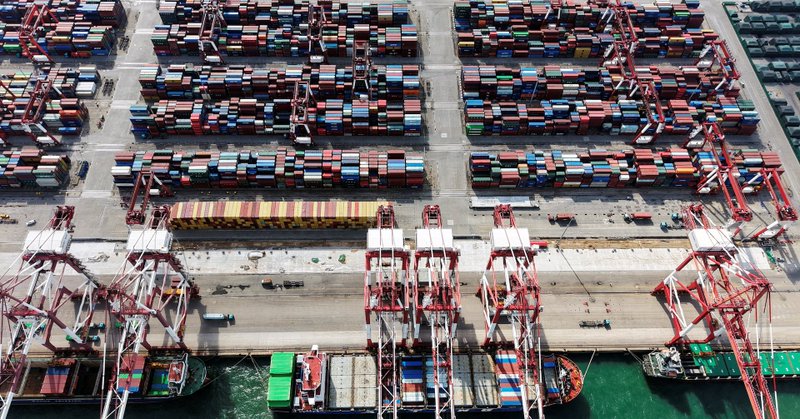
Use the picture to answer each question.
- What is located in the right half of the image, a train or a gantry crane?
gantry crane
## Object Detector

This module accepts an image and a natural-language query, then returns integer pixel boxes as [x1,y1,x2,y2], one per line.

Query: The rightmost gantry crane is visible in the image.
[734,167,800,243]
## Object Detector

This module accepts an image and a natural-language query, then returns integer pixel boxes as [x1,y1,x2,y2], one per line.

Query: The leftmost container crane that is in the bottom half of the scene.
[0,207,103,391]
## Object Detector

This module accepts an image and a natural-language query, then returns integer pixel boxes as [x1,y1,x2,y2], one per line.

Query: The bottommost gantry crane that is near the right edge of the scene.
[650,206,791,419]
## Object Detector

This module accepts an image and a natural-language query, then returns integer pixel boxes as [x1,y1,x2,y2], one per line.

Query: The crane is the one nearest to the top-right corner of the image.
[689,40,745,105]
